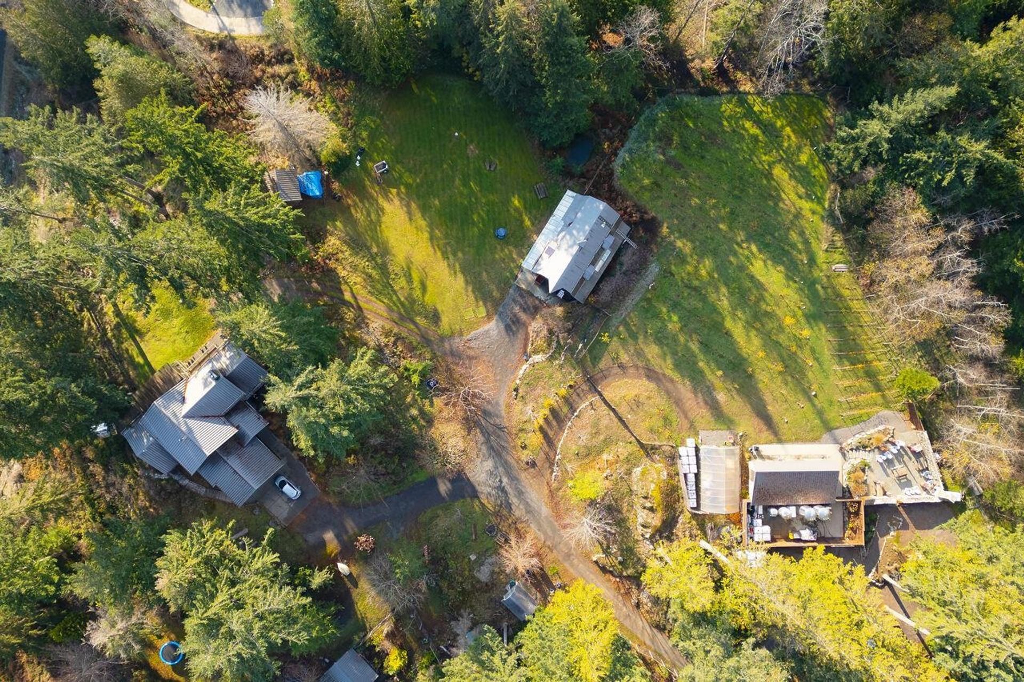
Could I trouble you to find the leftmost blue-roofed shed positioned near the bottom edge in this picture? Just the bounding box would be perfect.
[319,647,379,682]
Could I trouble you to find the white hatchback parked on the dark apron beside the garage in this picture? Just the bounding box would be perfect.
[273,476,301,502]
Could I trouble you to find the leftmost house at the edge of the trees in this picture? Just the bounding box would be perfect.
[122,347,285,507]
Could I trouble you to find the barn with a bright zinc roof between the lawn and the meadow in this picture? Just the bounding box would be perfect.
[521,189,631,303]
